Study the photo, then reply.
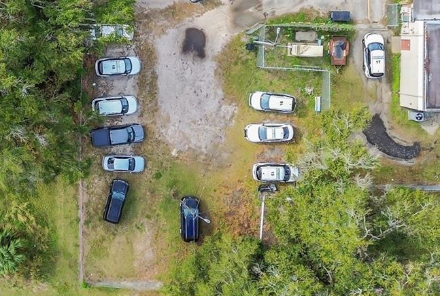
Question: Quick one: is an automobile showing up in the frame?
Yes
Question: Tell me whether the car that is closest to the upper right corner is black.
No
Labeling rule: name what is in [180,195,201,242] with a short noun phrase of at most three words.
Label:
car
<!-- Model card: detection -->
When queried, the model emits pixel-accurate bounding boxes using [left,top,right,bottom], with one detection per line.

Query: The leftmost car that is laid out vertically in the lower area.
[103,177,129,224]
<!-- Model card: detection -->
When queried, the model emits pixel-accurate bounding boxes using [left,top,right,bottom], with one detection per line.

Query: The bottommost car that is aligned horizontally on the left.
[102,154,145,175]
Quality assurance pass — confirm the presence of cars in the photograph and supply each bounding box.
[360,32,386,79]
[244,122,292,143]
[103,177,129,224]
[91,94,138,117]
[100,21,133,43]
[102,154,145,175]
[180,195,201,242]
[95,55,140,77]
[252,161,298,185]
[248,91,295,112]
